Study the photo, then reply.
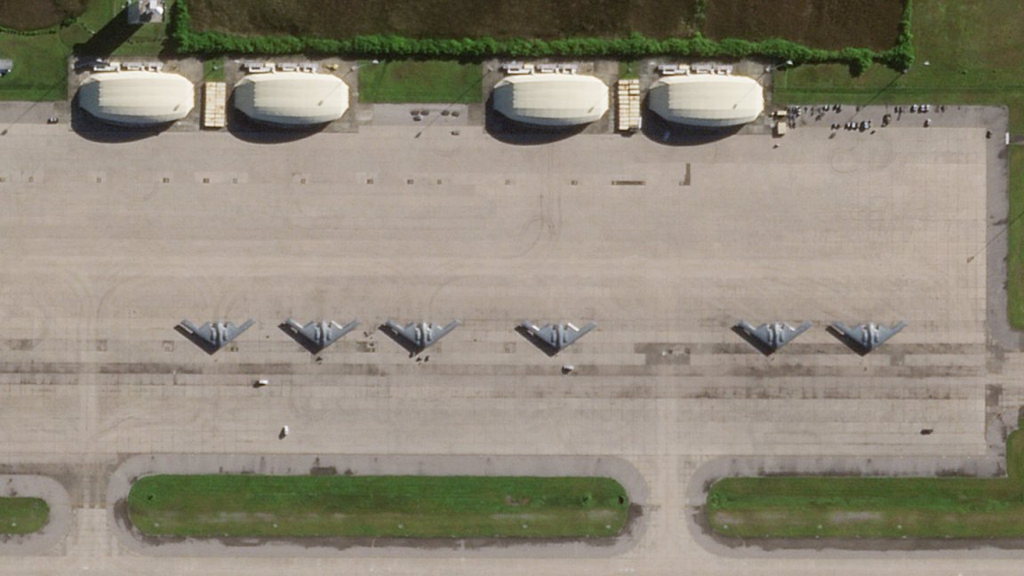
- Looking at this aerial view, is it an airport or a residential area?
airport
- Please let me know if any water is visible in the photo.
No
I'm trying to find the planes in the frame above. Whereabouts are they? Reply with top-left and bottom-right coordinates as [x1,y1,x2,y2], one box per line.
[737,319,812,348]
[180,319,257,348]
[385,318,462,347]
[521,320,597,349]
[832,320,907,348]
[284,318,361,347]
